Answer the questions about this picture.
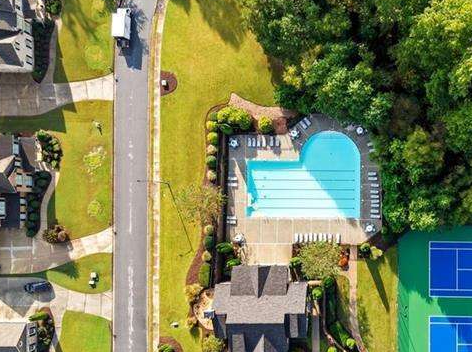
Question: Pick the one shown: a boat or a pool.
pool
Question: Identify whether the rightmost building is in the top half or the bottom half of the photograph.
bottom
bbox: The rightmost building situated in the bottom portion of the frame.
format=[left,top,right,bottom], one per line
[211,270,309,352]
